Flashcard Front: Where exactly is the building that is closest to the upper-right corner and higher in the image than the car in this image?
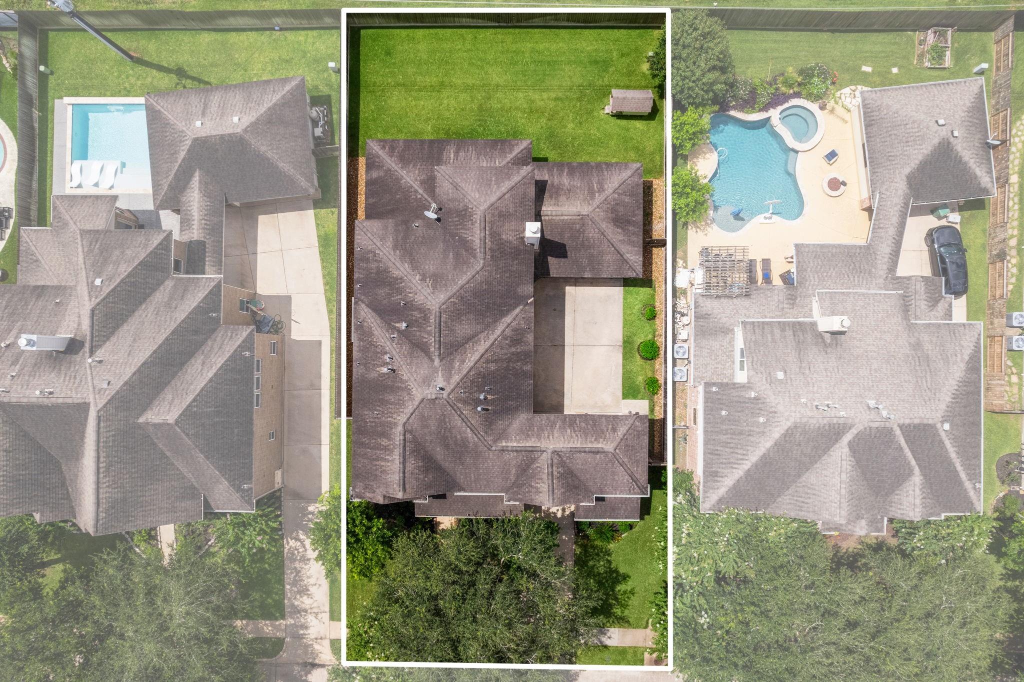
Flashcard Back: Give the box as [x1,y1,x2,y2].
[848,76,998,210]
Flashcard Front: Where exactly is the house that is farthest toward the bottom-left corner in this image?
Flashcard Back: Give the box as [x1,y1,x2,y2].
[0,193,283,536]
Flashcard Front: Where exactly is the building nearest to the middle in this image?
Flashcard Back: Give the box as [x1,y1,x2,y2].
[349,138,651,522]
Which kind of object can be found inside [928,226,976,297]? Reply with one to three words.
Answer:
car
